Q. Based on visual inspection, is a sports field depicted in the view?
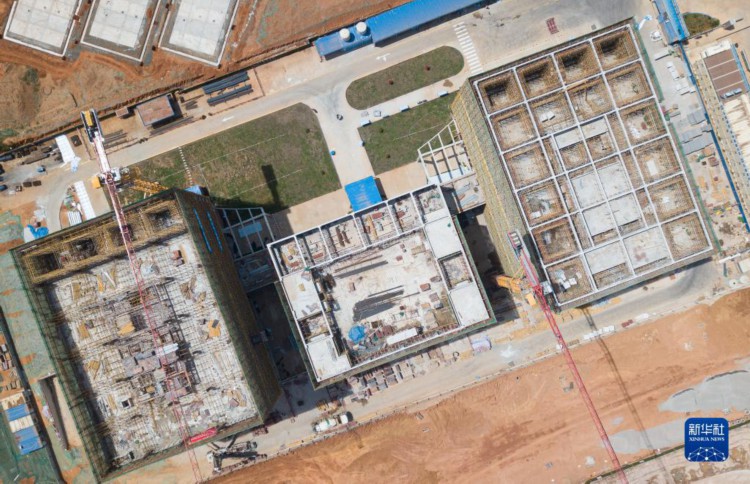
No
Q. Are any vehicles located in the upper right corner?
No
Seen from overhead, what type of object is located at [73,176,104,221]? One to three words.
shed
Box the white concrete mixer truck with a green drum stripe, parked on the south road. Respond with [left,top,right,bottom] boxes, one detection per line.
[310,407,354,434]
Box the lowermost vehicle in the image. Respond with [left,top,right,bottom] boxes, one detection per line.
[203,439,272,477]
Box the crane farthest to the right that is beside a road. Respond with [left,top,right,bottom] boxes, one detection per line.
[481,232,634,484]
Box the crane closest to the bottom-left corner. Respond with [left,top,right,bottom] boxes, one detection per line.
[78,105,205,484]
